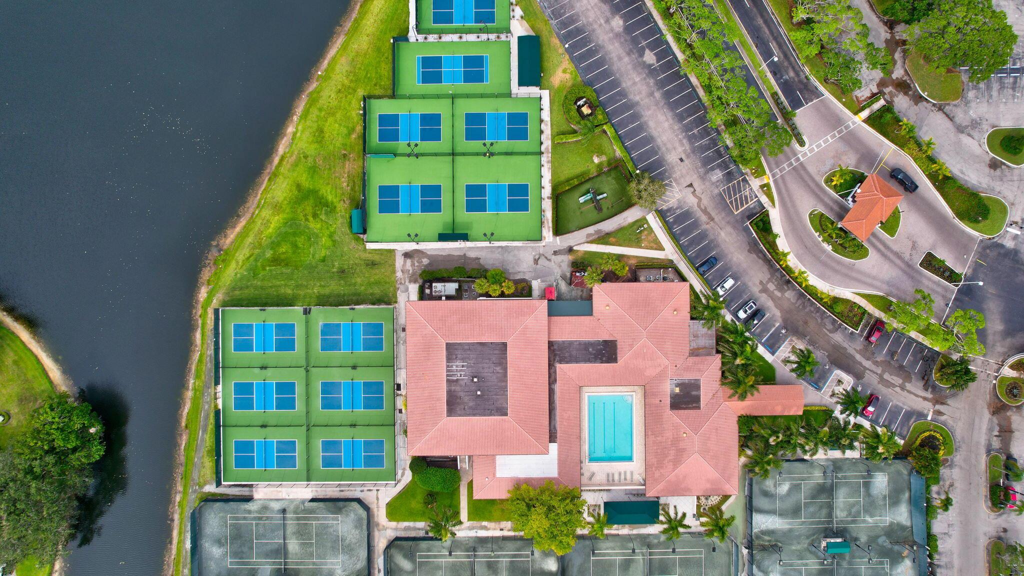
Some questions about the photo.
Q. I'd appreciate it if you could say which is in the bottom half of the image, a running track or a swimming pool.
swimming pool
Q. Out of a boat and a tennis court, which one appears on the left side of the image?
tennis court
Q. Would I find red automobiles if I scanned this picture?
Yes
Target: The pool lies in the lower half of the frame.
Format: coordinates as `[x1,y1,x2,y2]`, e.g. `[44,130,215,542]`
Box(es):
[587,393,635,463]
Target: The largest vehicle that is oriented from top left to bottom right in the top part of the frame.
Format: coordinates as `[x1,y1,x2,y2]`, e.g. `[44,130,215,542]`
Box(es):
[891,167,923,193]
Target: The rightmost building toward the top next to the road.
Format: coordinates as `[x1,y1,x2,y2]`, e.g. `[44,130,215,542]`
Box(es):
[835,173,904,243]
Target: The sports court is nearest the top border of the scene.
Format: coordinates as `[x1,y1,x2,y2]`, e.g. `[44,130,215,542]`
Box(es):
[417,0,510,34]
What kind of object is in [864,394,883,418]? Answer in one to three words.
car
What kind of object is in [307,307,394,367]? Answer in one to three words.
sports court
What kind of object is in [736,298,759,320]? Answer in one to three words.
car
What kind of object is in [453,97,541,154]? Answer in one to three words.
sports court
